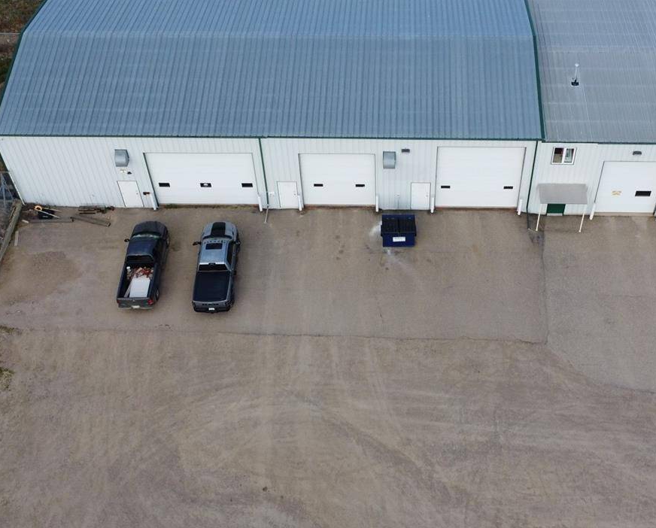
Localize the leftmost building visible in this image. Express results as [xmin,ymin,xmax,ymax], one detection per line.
[0,0,543,227]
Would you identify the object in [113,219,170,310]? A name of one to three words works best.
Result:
truck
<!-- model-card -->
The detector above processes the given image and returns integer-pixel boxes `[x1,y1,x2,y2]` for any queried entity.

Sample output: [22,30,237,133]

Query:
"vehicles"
[113,219,170,310]
[190,220,240,313]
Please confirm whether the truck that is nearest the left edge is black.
Yes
